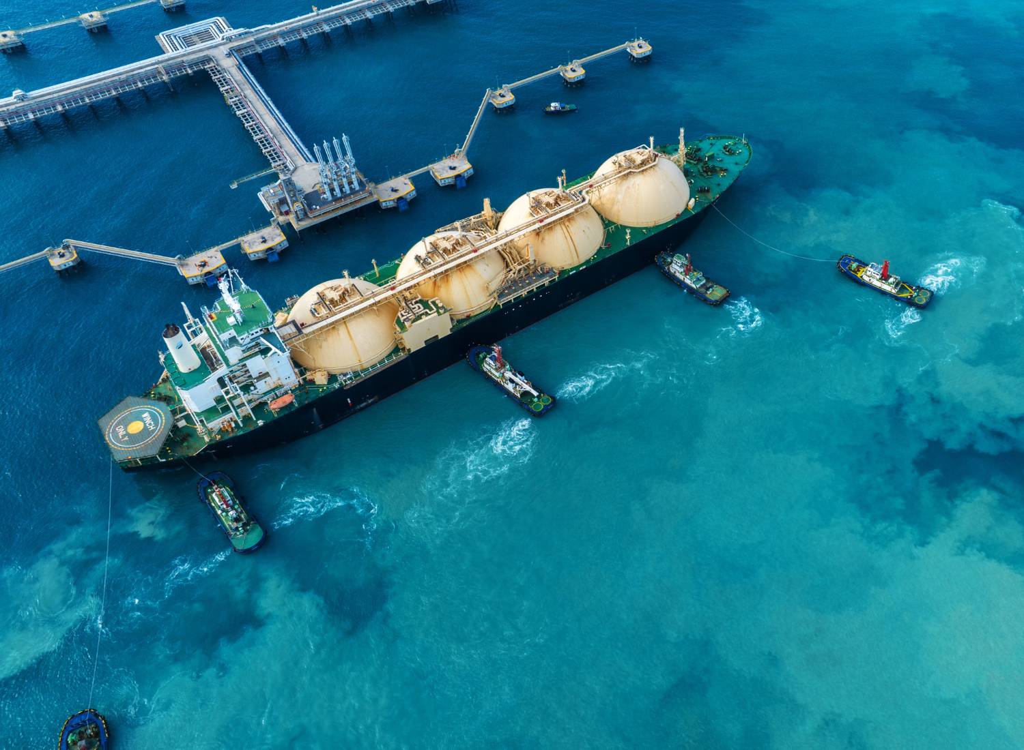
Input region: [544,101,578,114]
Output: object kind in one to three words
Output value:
boat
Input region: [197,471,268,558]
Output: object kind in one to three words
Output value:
boat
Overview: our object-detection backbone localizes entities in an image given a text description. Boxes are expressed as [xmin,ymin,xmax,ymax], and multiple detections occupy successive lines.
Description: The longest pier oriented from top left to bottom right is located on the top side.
[152,45,318,181]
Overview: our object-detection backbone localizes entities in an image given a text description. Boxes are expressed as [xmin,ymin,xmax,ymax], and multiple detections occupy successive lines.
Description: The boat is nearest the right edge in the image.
[835,249,934,312]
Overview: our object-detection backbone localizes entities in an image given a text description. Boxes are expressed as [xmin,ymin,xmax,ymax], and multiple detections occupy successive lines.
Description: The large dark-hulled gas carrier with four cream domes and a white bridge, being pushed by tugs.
[98,125,751,470]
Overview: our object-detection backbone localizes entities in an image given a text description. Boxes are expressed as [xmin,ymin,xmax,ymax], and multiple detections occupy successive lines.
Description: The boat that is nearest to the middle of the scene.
[468,341,560,418]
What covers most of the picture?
water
